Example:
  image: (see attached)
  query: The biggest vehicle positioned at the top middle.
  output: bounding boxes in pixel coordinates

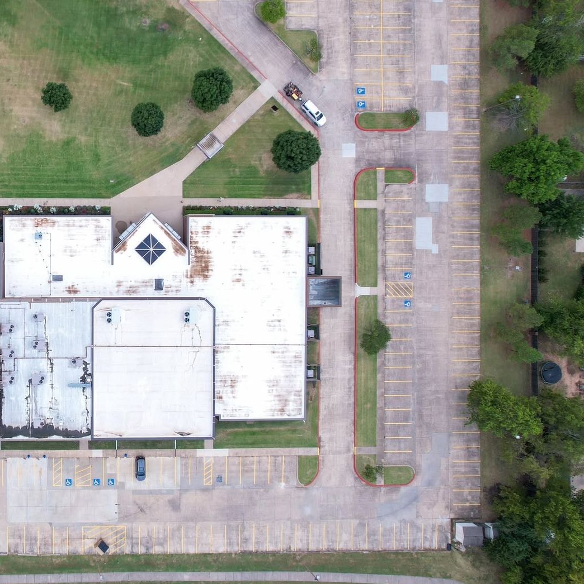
[302,100,324,126]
